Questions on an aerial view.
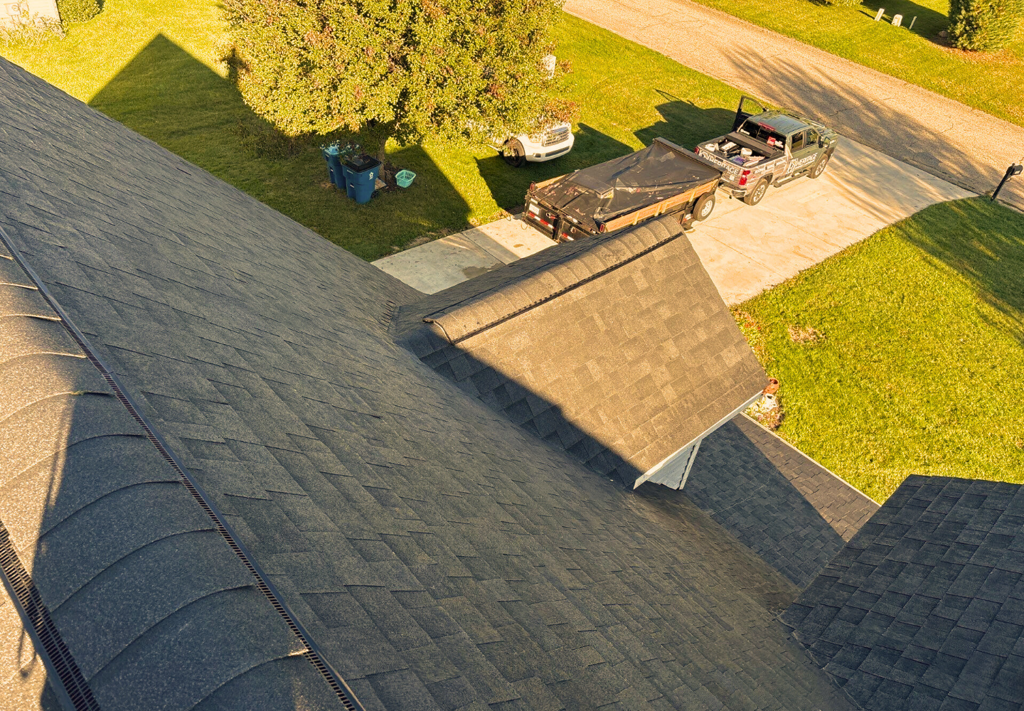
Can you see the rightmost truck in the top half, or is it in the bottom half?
top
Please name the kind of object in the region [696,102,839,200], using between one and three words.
truck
